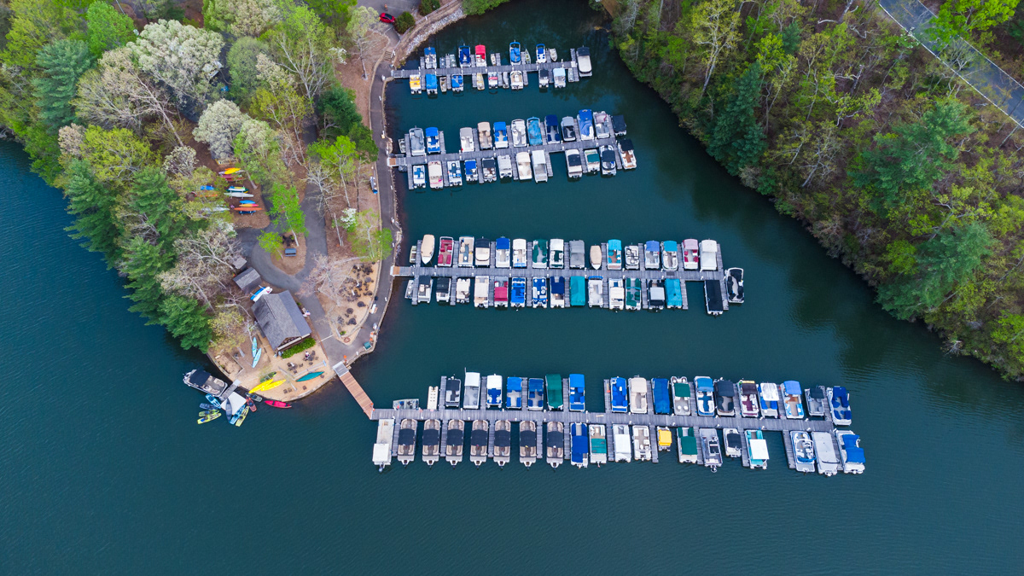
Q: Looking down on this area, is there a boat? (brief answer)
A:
Yes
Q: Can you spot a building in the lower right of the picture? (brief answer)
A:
No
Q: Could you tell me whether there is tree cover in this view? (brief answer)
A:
Yes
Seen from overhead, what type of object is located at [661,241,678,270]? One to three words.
boat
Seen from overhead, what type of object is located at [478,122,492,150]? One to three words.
boat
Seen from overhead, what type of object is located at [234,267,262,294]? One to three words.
shed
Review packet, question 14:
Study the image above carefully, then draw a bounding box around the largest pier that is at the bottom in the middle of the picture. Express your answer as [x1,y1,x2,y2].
[369,376,843,471]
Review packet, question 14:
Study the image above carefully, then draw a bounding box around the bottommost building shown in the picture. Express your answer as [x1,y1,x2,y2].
[253,291,315,356]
